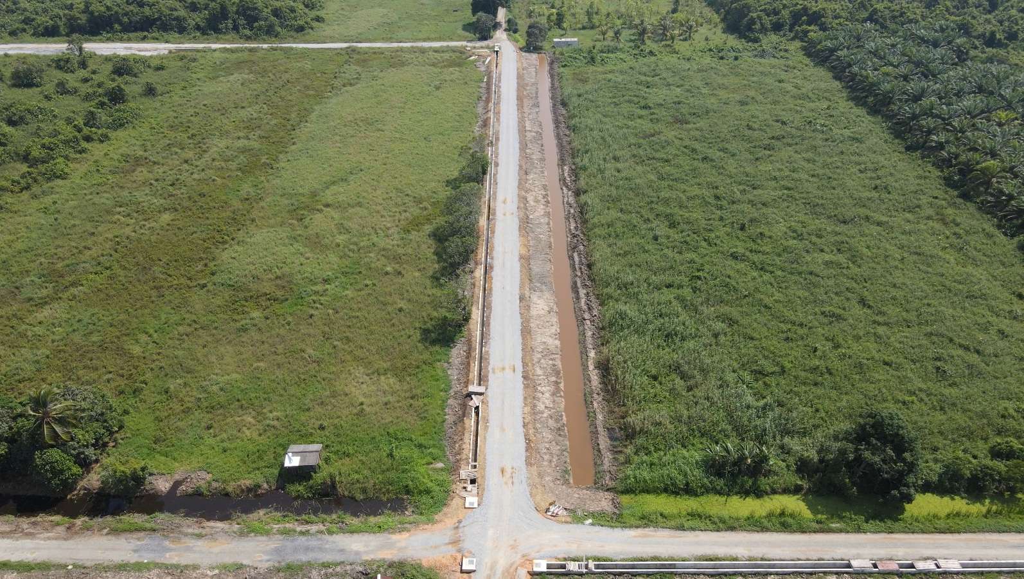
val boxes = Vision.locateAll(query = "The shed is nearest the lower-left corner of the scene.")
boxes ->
[284,443,327,479]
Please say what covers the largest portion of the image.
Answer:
grass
